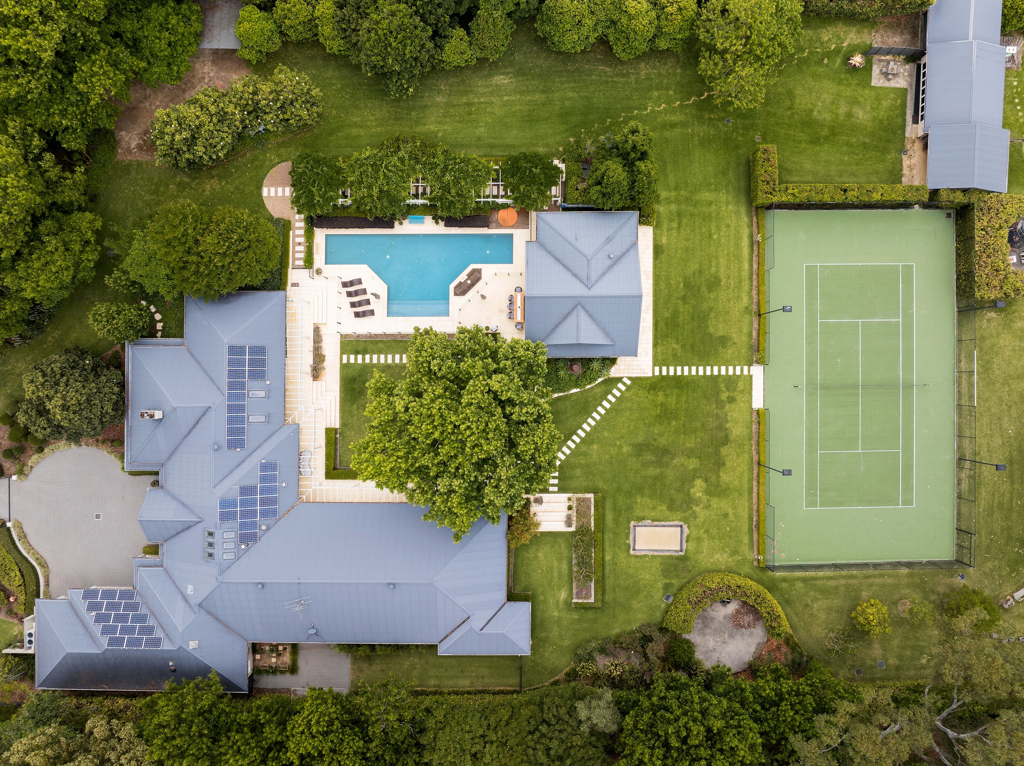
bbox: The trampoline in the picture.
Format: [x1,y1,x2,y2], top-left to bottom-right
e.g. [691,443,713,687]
[632,523,685,554]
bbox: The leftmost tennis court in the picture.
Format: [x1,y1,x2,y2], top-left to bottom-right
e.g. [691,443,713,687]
[765,209,957,566]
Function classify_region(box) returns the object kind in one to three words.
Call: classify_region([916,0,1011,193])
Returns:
building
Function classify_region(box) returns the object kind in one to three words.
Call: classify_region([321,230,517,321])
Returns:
swimming pool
